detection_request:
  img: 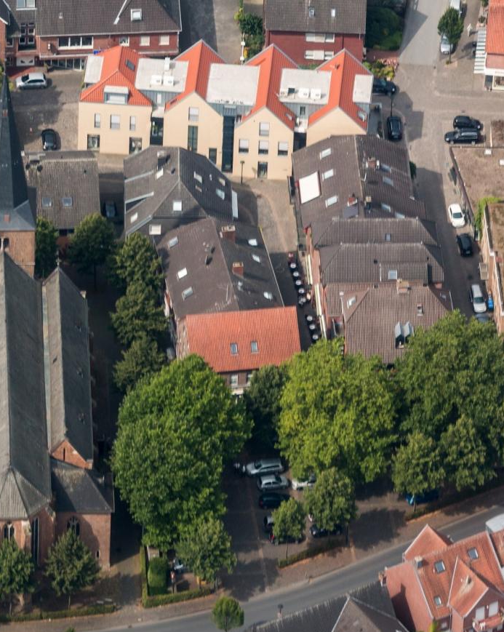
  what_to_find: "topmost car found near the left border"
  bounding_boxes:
[15,73,49,89]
